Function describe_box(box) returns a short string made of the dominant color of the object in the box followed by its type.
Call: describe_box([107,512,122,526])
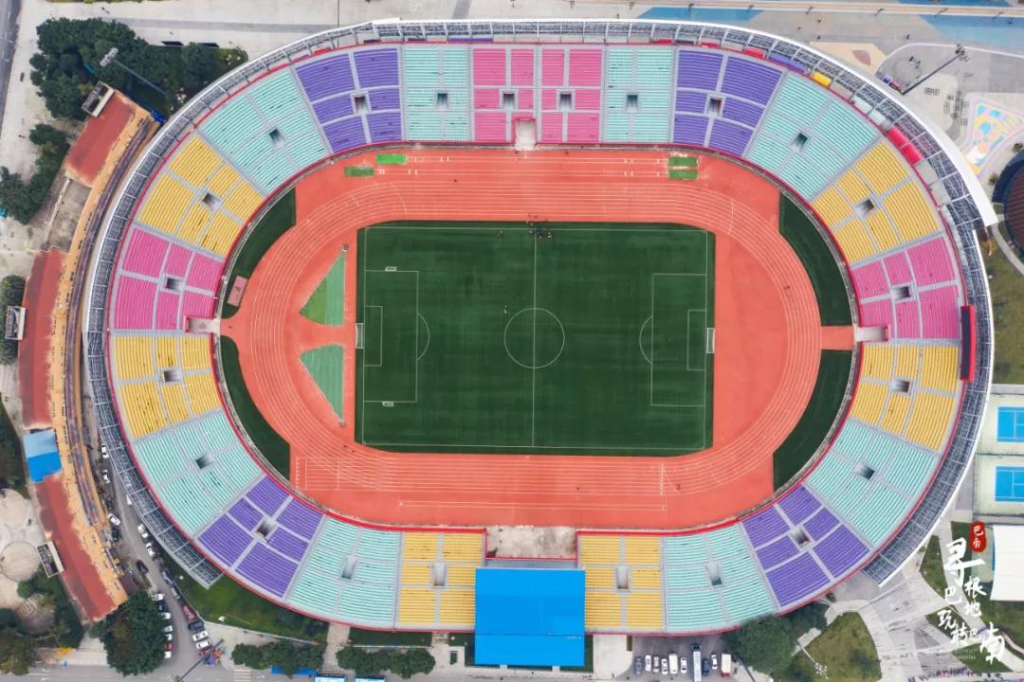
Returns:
white car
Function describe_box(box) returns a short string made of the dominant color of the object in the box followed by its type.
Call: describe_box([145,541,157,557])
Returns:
white vehicle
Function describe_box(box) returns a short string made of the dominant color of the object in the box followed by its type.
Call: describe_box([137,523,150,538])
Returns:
white vehicle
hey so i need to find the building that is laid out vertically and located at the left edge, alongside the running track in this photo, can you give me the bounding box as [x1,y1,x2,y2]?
[5,81,159,623]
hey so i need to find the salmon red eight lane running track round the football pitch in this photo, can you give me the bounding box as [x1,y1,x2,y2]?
[219,149,854,528]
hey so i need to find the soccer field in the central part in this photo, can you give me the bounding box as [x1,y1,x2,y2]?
[356,220,715,455]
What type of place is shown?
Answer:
sports ground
